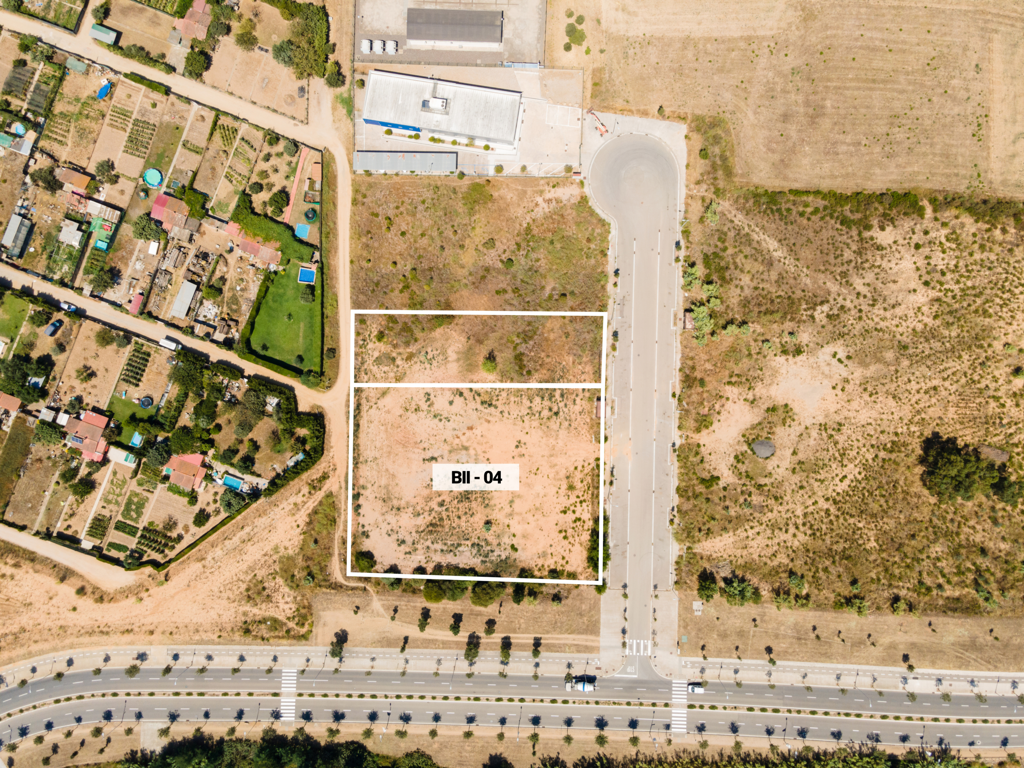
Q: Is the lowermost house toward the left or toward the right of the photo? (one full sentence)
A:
The lowermost house sits on the left side.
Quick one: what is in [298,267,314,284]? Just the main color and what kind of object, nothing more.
blue swimming pool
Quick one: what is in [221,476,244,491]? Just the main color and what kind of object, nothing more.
blue swimming pool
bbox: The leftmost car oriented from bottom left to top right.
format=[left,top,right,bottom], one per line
[45,320,63,334]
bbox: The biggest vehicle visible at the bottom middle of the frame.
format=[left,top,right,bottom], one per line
[565,681,594,693]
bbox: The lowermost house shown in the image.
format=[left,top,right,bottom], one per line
[164,453,209,490]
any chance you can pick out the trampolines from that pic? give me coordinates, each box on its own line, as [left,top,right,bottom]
[138,397,152,409]
[303,208,316,221]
